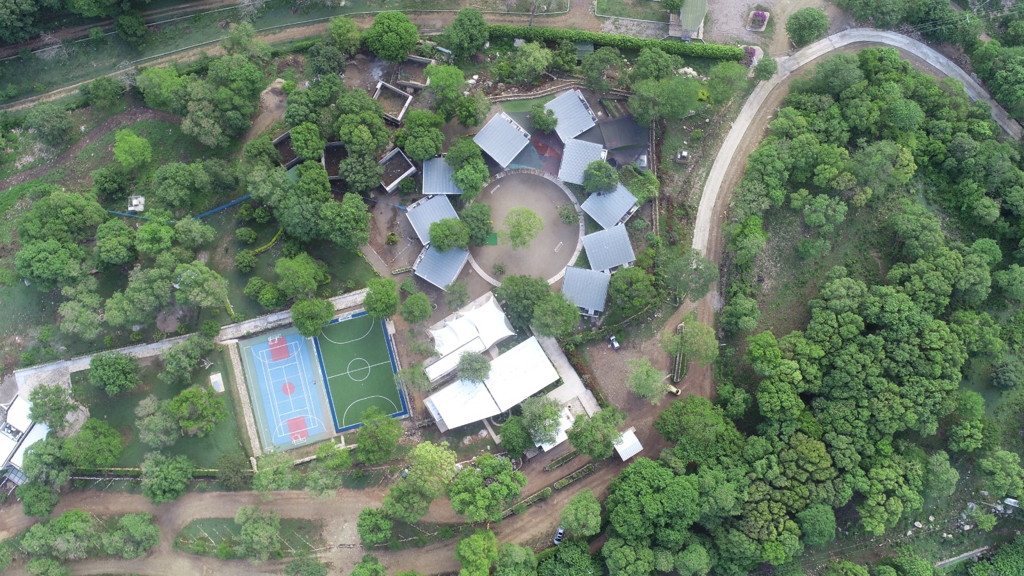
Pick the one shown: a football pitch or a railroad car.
football pitch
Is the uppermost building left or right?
right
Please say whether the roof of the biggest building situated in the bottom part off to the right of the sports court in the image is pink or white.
white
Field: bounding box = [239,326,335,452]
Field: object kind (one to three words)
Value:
sports court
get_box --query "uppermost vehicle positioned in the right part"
[610,336,622,350]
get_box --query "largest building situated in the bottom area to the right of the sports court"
[423,336,560,433]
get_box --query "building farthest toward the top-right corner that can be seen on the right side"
[679,0,709,42]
